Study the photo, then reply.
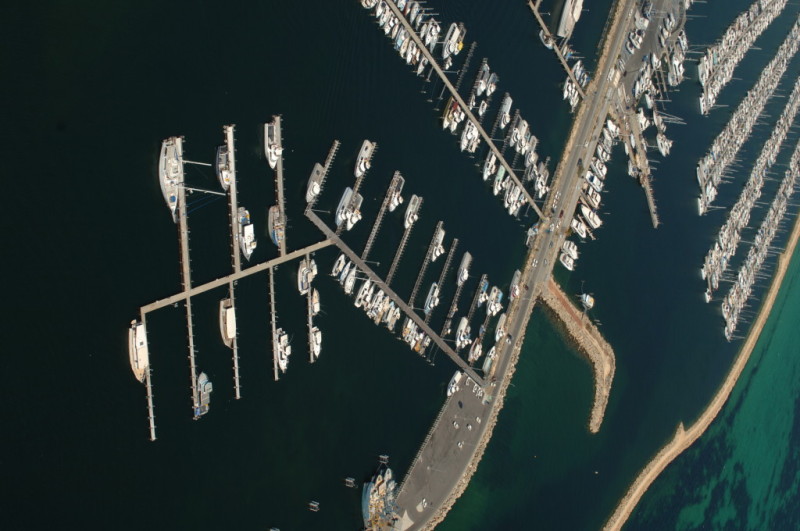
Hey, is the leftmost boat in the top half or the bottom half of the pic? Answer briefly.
bottom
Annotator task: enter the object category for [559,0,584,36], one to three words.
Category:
ship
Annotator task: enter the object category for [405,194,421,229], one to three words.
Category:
boat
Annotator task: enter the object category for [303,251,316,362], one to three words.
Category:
pier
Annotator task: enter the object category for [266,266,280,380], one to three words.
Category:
pier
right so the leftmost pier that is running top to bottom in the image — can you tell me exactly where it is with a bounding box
[139,315,158,440]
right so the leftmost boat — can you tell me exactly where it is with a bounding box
[128,321,152,383]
